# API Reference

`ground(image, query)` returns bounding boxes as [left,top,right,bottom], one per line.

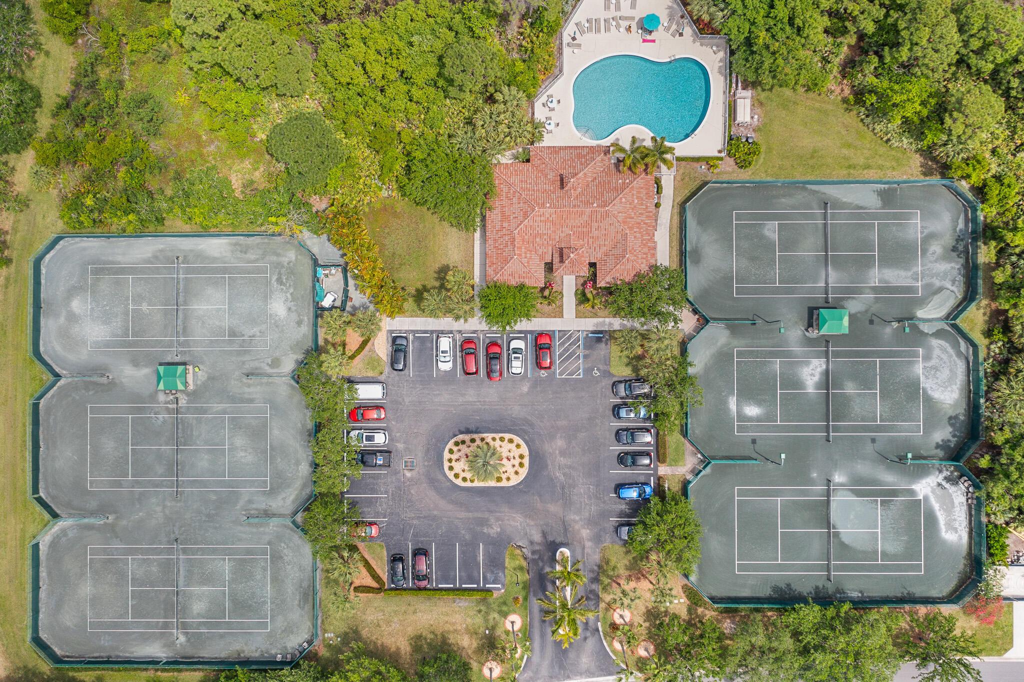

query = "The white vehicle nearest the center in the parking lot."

[508,339,525,376]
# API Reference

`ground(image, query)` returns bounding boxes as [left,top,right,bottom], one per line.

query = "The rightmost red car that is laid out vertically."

[535,333,553,370]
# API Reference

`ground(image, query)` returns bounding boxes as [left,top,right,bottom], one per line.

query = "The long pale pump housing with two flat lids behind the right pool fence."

[736,67,753,127]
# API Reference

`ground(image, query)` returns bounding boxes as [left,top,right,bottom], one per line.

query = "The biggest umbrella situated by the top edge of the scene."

[642,10,661,28]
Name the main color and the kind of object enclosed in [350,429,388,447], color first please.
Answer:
white car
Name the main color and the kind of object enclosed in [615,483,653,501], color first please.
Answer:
blue car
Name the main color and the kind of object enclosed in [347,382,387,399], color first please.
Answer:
white vehicle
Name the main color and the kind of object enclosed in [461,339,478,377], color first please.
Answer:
red car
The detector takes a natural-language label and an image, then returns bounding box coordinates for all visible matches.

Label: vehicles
[390,335,408,371]
[347,382,387,399]
[412,548,430,588]
[486,342,503,381]
[617,451,653,469]
[508,339,525,376]
[436,335,453,371]
[461,339,478,377]
[612,380,651,398]
[350,405,386,422]
[390,553,407,588]
[612,405,647,421]
[347,522,381,539]
[535,333,553,370]
[350,429,388,447]
[615,428,653,446]
[352,450,396,469]
[615,483,653,501]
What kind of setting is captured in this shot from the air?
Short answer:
sports ground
